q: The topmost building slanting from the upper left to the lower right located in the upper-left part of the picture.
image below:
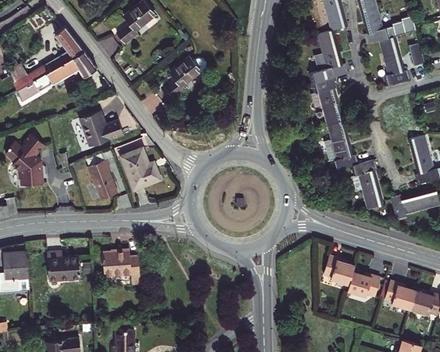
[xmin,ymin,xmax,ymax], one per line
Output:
[55,28,82,56]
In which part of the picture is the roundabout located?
center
